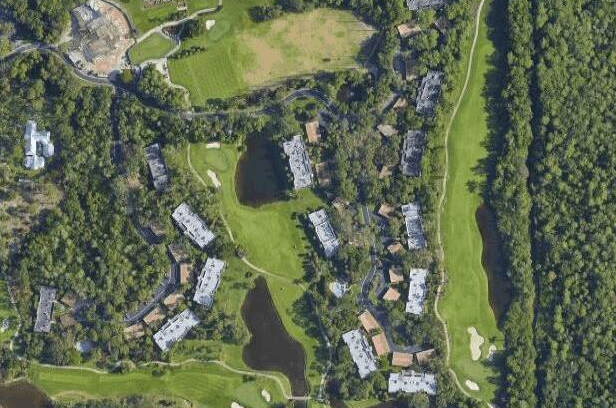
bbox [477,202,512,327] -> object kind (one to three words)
pond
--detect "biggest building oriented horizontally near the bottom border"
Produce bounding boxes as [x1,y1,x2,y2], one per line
[390,373,436,394]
